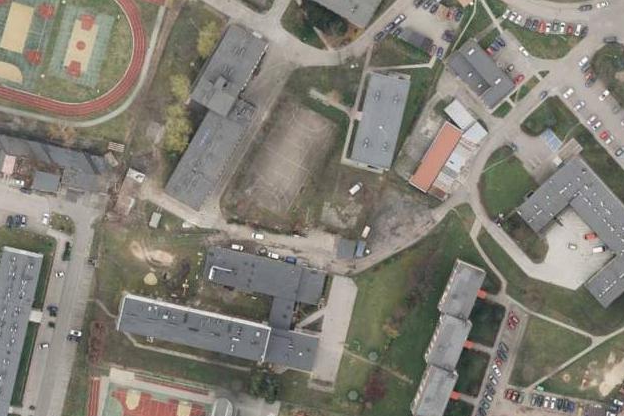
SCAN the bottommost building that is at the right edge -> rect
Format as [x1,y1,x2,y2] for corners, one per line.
[516,136,624,310]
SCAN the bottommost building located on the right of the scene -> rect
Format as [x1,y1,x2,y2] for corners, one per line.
[410,366,461,416]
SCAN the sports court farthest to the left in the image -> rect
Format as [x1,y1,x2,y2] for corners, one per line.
[0,0,60,90]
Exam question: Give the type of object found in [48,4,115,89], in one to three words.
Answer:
basketball court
